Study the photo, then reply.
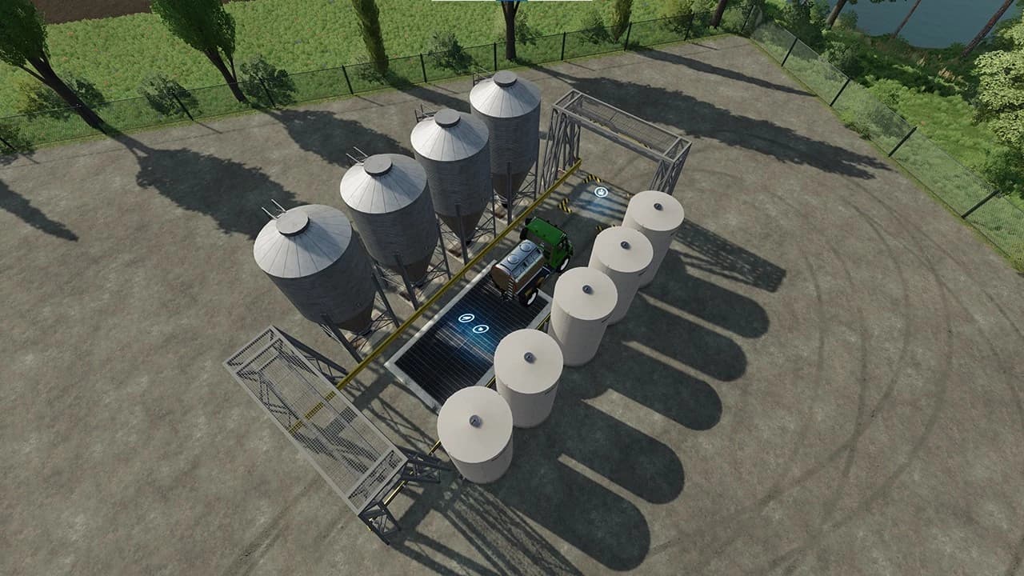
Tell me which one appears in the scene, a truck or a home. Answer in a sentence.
Visible in the photo is a truck.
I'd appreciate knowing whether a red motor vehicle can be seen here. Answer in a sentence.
No, there's no red motor vehicle here.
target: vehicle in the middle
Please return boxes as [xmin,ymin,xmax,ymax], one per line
[486,214,575,309]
